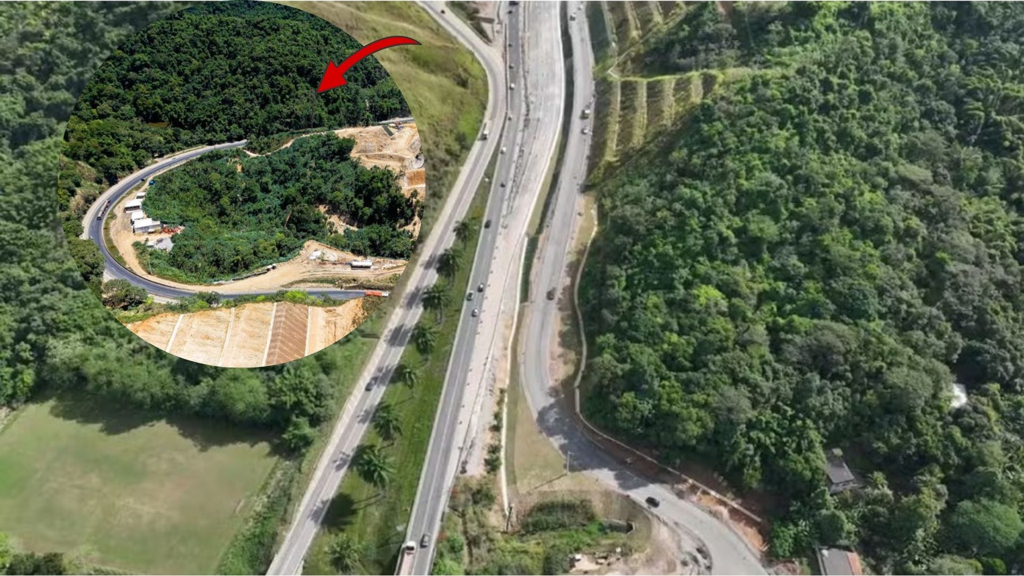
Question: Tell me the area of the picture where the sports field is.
bottom left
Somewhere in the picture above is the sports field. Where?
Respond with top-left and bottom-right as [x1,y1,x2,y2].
[0,397,282,576]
